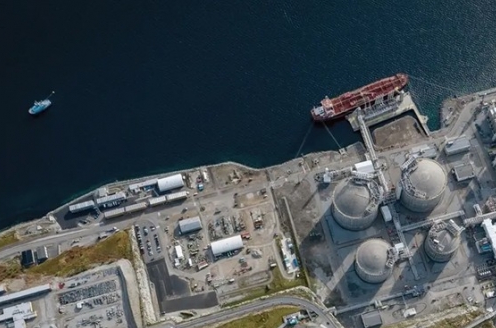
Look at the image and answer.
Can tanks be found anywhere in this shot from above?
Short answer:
Yes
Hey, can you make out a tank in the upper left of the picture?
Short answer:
No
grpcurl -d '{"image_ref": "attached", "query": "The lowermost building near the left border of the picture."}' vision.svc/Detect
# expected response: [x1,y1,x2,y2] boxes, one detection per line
[0,301,38,328]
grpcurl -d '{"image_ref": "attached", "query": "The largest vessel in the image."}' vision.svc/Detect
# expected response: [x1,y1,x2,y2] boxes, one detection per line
[309,76,409,123]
